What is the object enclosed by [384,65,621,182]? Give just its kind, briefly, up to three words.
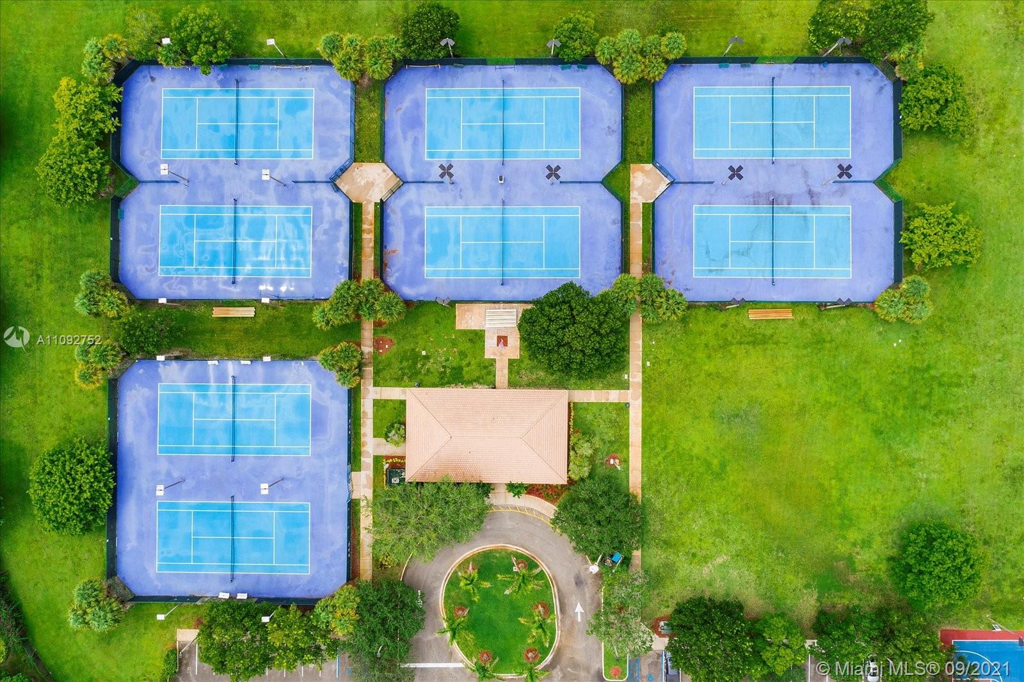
tennis court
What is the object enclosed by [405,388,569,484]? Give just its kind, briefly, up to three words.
building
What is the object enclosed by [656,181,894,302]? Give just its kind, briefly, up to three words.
tennis court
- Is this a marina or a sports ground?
sports ground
